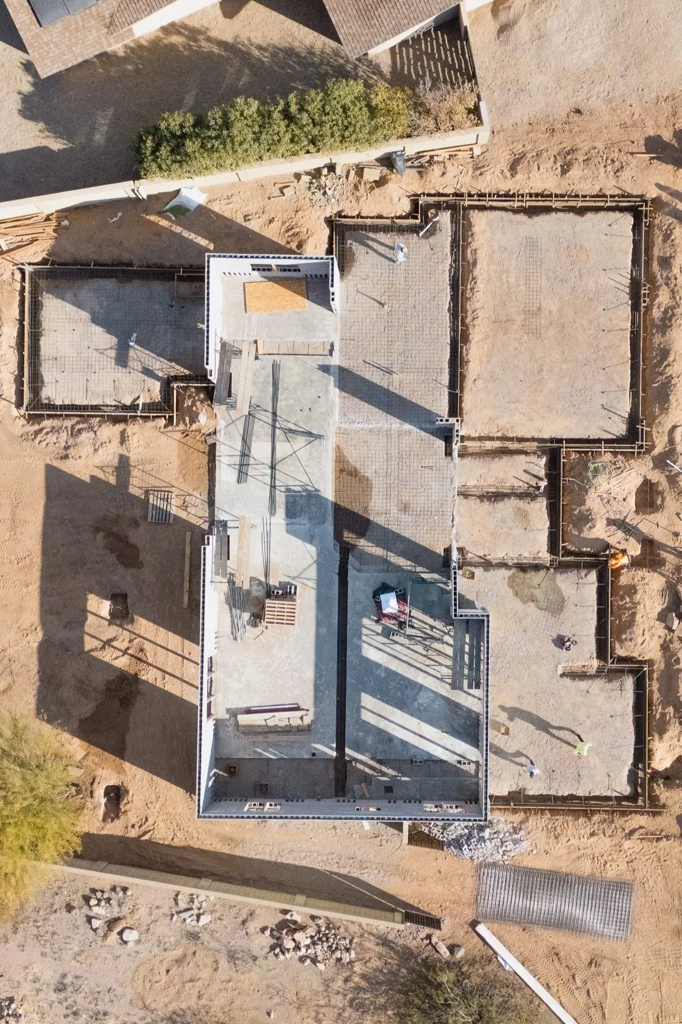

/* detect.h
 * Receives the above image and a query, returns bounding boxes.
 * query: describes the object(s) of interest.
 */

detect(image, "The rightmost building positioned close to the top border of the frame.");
[324,0,470,72]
